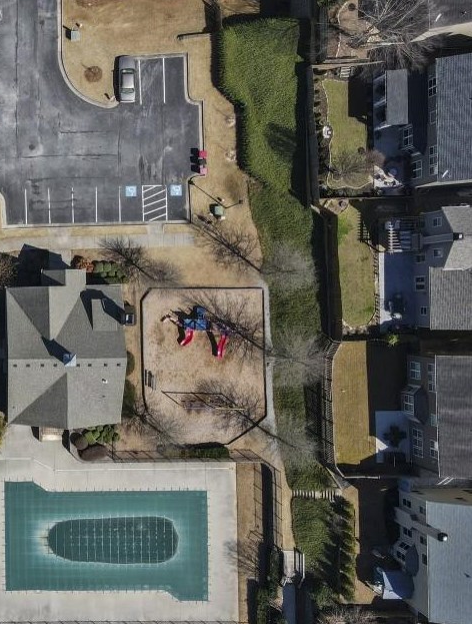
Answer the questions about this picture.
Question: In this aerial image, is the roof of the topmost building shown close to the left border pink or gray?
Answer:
gray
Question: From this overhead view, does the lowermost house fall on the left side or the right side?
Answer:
right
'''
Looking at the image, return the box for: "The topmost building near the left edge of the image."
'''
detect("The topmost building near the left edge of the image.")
[7,269,137,430]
